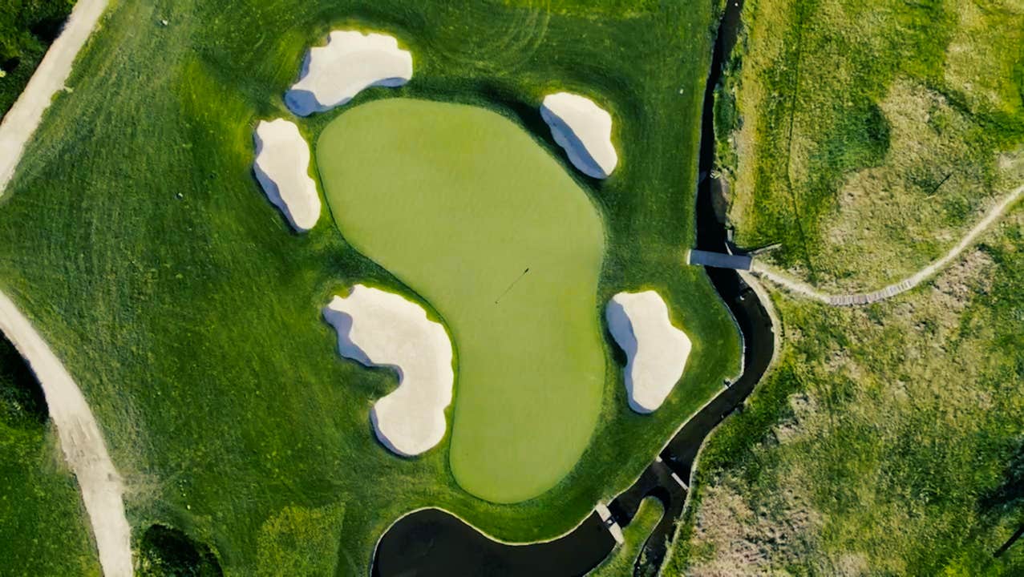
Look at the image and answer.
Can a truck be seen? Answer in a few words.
No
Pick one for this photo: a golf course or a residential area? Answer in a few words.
golf course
